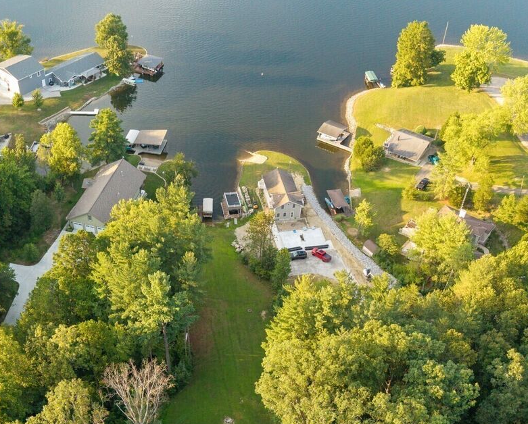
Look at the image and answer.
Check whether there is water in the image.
Yes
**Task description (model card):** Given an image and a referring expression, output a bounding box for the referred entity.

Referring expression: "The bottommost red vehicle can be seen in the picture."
[309,246,335,263]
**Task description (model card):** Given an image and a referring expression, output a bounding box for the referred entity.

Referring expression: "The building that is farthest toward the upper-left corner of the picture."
[0,54,49,96]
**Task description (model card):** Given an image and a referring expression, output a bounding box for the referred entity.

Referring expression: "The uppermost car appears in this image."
[416,175,431,189]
